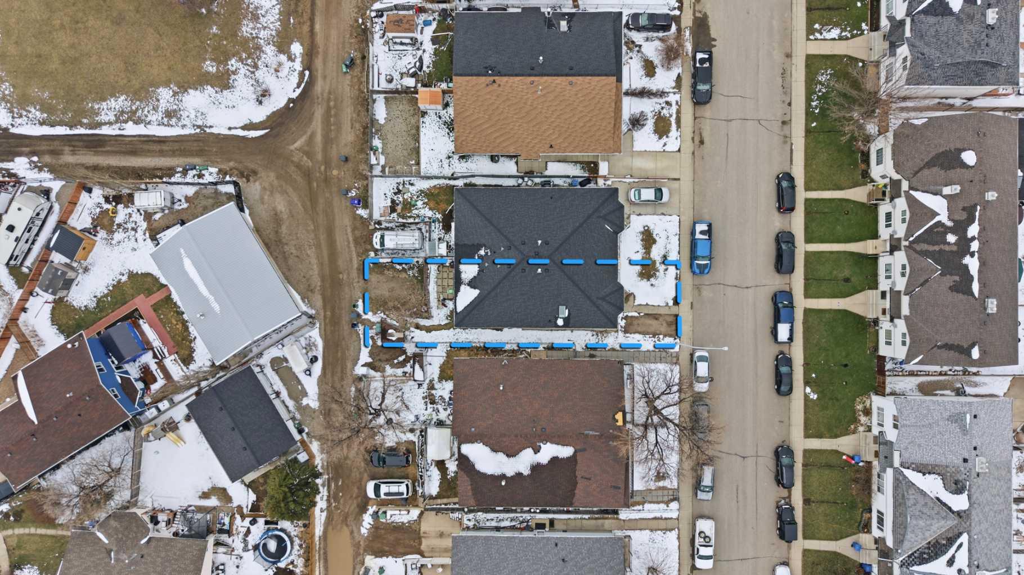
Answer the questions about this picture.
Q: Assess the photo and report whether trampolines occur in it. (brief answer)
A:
Yes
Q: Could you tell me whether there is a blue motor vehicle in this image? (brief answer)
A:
Yes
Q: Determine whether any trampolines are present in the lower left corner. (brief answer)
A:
Yes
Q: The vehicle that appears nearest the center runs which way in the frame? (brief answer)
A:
from side to side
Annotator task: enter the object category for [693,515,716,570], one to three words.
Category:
truck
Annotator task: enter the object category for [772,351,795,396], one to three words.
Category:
car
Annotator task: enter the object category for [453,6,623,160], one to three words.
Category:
house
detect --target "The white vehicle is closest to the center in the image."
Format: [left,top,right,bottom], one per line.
[374,229,424,251]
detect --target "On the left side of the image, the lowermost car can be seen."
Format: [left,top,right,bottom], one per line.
[367,478,414,501]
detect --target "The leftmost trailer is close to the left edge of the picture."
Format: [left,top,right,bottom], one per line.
[0,188,53,265]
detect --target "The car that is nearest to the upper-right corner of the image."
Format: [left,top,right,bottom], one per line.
[774,172,797,213]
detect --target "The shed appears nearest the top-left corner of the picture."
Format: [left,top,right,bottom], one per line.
[46,224,98,262]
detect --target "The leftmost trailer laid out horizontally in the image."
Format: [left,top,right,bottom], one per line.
[134,190,189,213]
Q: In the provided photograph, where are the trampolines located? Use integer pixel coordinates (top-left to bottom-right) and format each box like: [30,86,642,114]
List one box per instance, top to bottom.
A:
[252,526,294,567]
